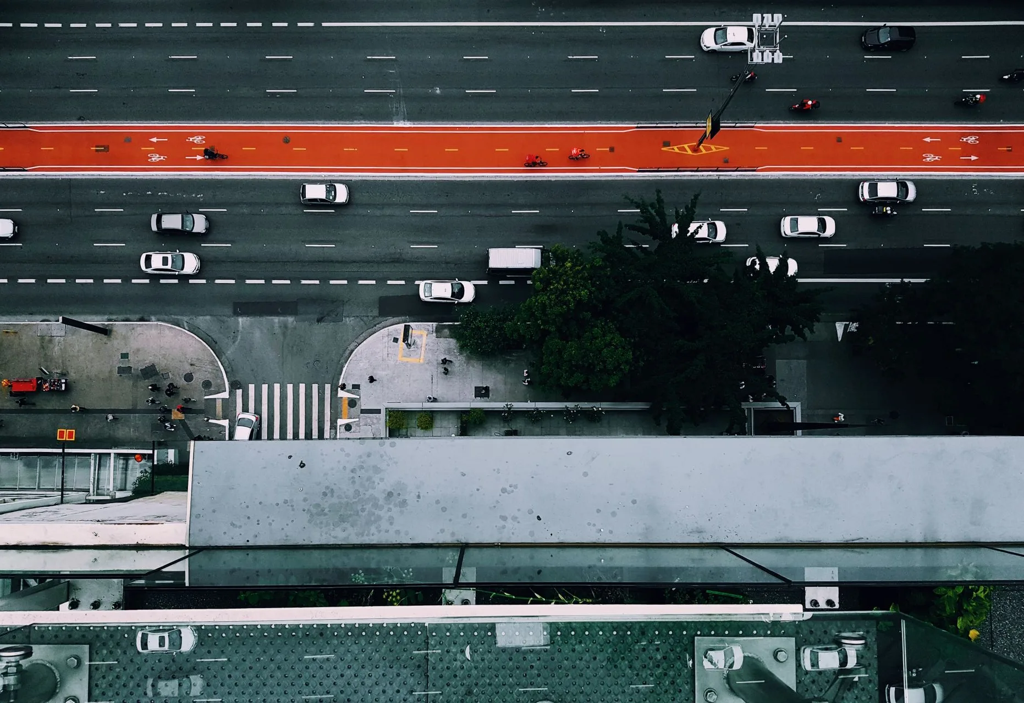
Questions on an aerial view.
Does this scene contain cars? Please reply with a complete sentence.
Yes, I can see a car in this picture.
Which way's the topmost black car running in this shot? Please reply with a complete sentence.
The topmost black car runs from left to right in the image.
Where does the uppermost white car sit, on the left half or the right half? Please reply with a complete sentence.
It is on the right.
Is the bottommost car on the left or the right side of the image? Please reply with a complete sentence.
The bottommost car appears in the left half of the scene.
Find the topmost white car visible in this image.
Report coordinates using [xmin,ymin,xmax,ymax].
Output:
[700,25,755,52]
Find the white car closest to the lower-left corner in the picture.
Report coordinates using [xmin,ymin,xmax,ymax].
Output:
[231,411,259,440]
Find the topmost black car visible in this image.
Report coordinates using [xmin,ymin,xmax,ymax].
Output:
[861,24,916,52]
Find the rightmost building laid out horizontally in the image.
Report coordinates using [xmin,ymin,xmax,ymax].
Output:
[185,435,1024,563]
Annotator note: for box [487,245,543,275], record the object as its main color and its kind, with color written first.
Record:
white van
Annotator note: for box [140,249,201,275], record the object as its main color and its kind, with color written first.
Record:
white car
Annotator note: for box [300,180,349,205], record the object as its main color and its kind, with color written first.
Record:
white car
